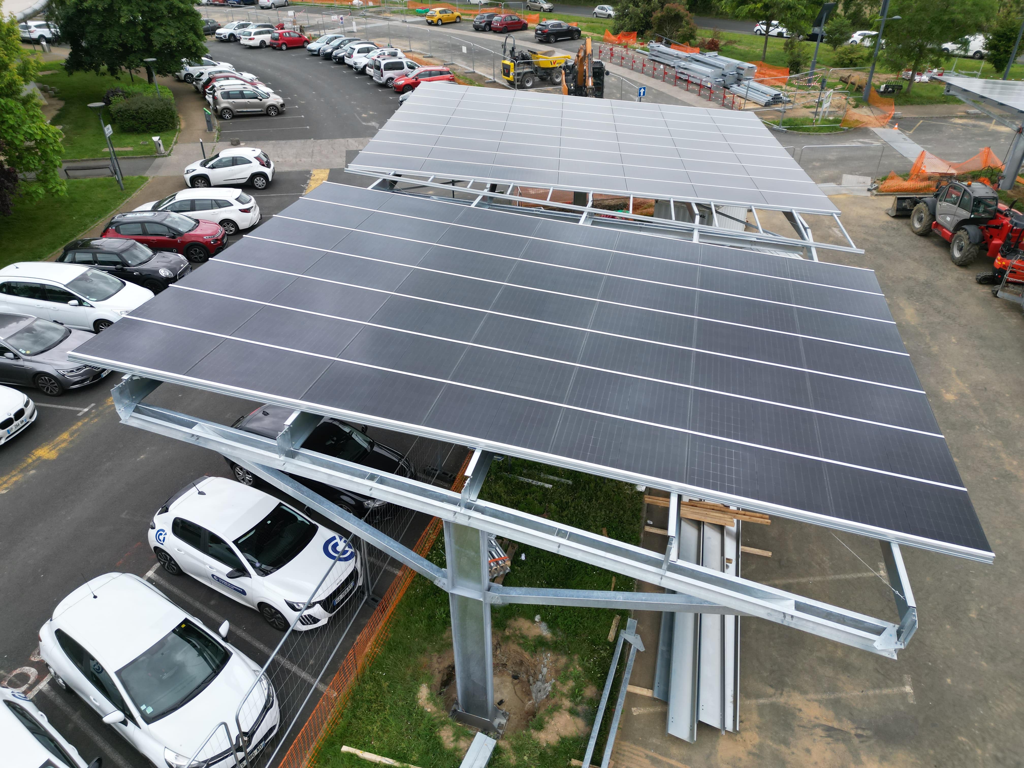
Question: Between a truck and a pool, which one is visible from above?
truck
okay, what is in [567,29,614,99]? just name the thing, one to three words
work vehicle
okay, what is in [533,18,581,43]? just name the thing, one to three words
car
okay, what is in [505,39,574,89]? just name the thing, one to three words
truck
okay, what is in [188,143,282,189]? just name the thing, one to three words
car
